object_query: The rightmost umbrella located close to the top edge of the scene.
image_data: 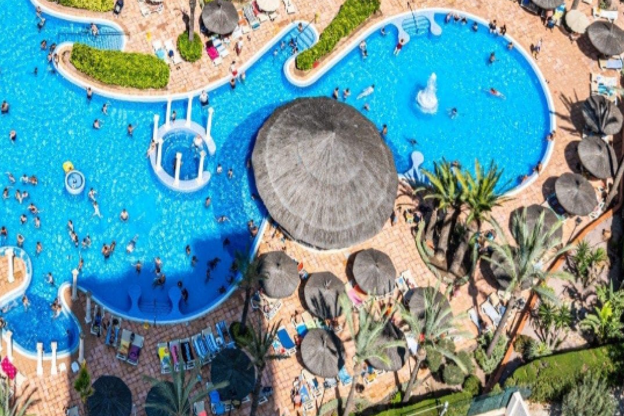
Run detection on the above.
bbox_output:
[586,20,624,69]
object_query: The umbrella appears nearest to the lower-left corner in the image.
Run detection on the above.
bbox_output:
[87,378,131,416]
